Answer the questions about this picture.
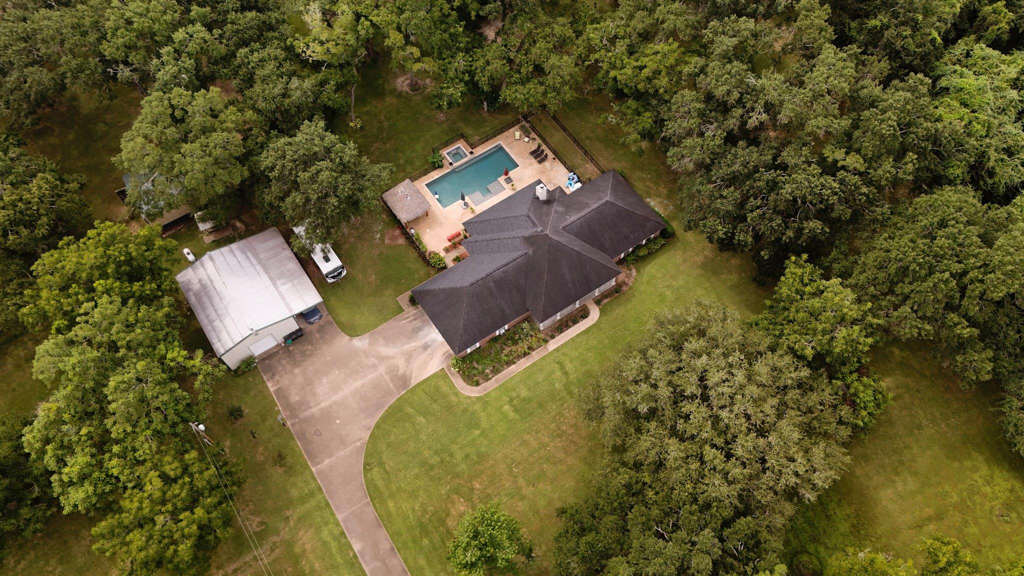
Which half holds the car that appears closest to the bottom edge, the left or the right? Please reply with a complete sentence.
It is on the left.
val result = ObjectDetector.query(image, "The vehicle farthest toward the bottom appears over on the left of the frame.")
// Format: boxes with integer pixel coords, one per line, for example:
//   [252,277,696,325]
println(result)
[300,305,323,325]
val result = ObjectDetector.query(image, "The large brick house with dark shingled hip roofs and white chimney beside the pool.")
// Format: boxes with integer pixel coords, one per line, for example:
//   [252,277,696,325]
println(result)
[411,169,667,358]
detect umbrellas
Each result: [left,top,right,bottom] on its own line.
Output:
[503,168,512,183]
[460,194,469,209]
